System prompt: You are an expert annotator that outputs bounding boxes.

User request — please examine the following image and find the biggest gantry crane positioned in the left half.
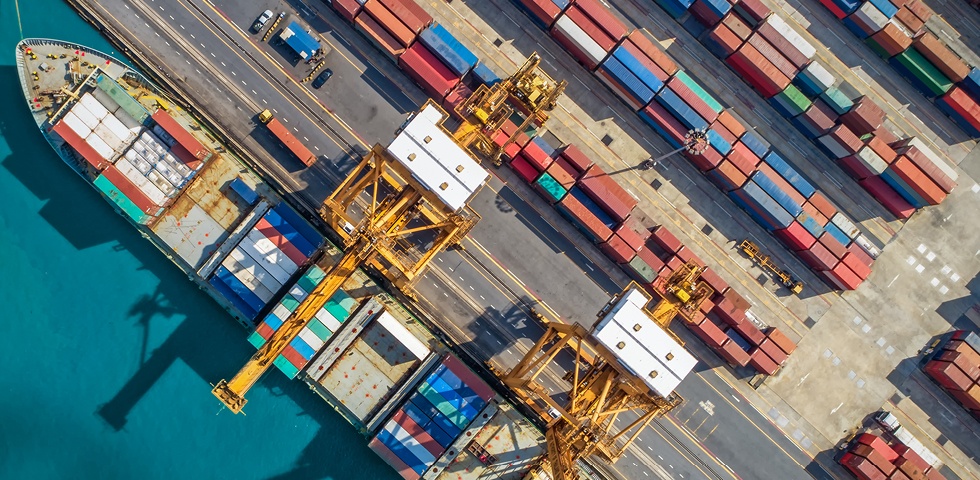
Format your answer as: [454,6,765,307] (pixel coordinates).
[205,79,511,414]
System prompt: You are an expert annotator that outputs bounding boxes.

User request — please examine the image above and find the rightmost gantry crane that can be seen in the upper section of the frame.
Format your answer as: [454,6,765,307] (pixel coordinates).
[469,46,572,166]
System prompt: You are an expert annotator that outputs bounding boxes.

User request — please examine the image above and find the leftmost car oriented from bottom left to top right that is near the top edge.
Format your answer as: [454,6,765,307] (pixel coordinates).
[250,9,273,32]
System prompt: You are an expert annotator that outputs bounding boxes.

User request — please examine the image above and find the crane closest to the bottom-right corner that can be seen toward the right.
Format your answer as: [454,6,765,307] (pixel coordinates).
[485,262,713,480]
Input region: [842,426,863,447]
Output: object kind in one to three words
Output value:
work vehicle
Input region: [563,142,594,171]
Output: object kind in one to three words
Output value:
shipping container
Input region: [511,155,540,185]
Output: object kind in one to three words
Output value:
shipping container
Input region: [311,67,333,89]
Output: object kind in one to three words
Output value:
car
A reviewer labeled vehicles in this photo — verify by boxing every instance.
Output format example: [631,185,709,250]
[740,236,808,296]
[877,410,898,436]
[250,9,273,32]
[926,335,947,355]
[311,67,333,89]
[842,426,863,447]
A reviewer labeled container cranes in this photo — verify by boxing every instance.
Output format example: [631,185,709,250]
[205,79,511,414]
[469,46,572,166]
[485,262,713,480]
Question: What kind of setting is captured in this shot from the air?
port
